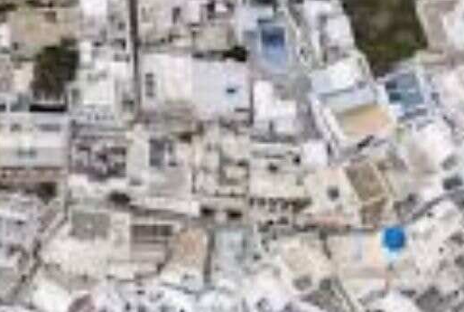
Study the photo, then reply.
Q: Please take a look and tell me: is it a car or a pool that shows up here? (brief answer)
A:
pool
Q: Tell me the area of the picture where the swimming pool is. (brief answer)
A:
top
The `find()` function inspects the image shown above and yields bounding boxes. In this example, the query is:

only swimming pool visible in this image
[259,23,287,73]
